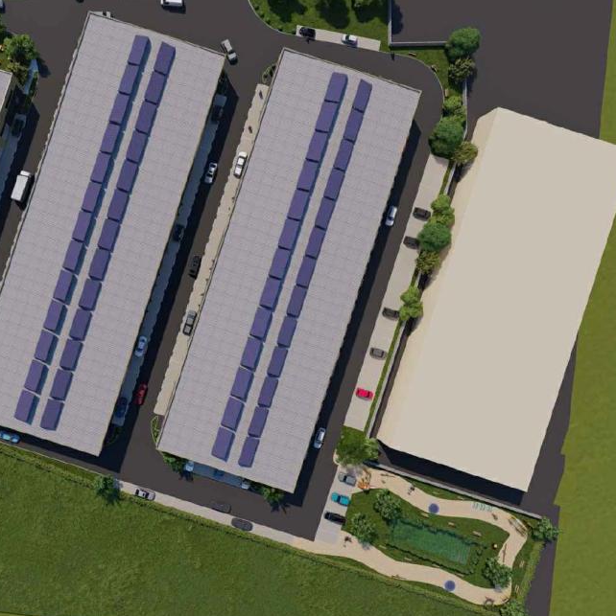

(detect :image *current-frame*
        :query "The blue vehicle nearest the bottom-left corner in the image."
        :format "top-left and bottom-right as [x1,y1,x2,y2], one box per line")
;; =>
[0,430,20,443]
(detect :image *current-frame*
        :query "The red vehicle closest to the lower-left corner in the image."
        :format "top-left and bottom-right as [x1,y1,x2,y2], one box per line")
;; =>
[135,382,149,405]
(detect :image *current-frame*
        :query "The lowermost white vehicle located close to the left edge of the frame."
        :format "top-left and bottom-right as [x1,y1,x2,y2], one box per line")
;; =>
[12,173,32,205]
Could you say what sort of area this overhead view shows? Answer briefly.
industrial area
